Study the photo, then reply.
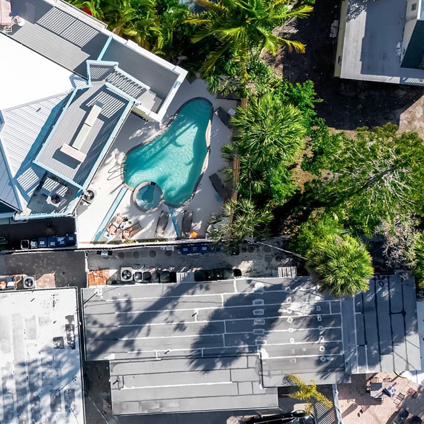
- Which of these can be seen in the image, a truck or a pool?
pool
